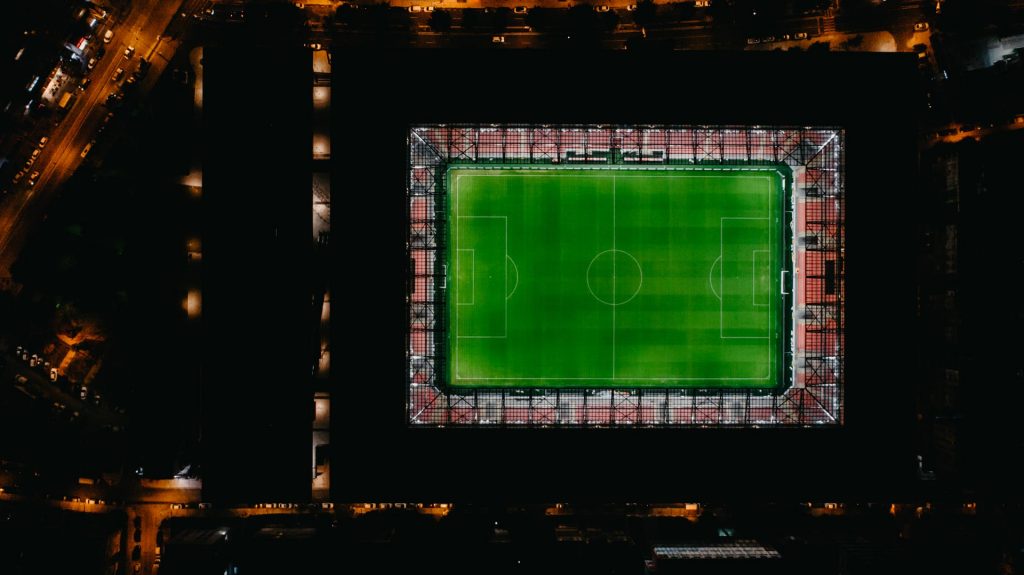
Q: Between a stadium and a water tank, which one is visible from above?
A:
stadium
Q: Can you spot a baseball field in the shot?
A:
No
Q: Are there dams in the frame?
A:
No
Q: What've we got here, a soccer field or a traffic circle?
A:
soccer field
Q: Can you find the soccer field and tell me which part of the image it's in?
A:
center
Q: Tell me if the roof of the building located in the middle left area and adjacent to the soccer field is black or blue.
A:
black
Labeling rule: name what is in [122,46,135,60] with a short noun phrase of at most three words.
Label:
vehicle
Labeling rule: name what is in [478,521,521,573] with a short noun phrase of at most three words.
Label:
building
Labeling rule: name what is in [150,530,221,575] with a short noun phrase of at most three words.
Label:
shed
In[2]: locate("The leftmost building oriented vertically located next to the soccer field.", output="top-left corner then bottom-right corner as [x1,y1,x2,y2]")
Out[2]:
[203,50,313,502]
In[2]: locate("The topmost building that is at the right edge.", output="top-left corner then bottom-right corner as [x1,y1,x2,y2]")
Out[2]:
[938,153,1020,212]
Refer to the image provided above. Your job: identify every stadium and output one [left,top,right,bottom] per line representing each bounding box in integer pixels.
[329,50,918,503]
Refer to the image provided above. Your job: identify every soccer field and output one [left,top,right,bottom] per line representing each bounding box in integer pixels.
[435,158,791,395]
